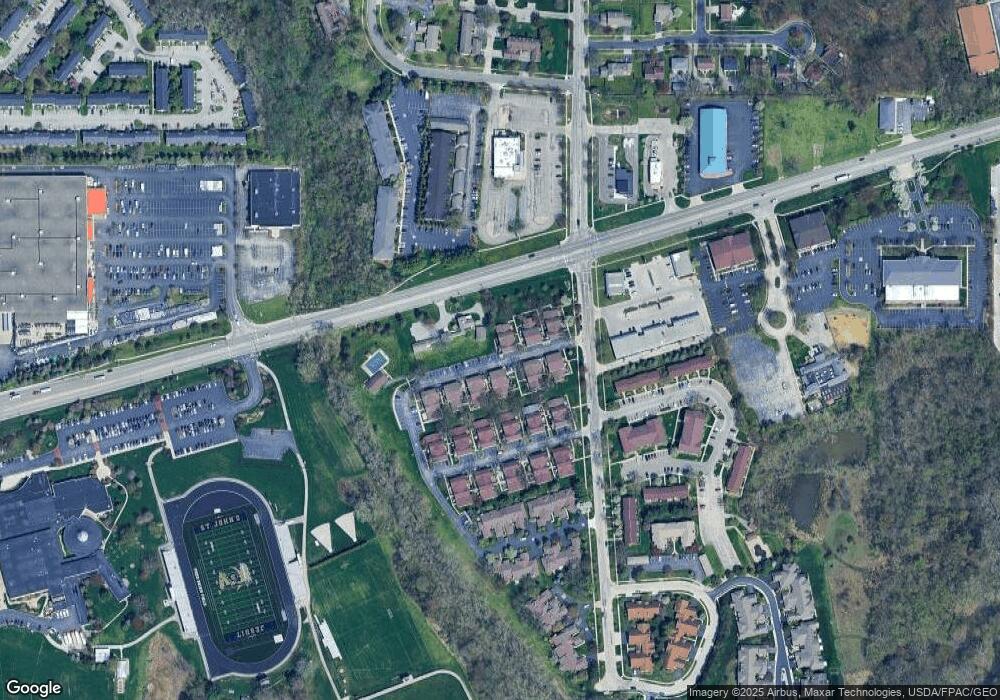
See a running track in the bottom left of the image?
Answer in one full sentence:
Yes, in the bottom left of the image there is a running track.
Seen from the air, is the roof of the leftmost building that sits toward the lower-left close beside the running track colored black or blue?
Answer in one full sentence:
The roof of the leftmost building that sits toward the lower-left close beside the running track looks blue in the image.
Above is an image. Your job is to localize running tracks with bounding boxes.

[164,478,299,679]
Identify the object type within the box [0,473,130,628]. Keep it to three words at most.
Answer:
building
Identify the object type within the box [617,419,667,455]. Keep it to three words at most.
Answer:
house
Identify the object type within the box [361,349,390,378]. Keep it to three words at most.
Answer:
swimming pool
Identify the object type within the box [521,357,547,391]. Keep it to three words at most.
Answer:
house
